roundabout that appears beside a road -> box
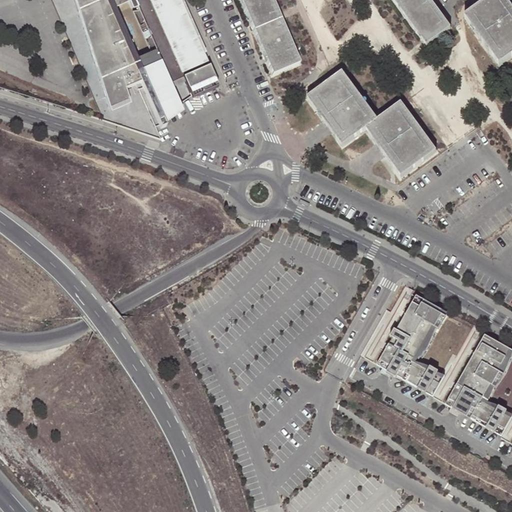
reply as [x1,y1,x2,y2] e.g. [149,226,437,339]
[228,164,290,222]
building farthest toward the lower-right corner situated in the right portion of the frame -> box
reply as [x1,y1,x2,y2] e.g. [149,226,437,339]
[446,333,512,447]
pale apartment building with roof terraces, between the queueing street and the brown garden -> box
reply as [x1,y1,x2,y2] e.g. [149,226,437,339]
[376,294,448,399]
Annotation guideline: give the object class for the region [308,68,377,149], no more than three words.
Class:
building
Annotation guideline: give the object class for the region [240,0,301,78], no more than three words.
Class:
building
